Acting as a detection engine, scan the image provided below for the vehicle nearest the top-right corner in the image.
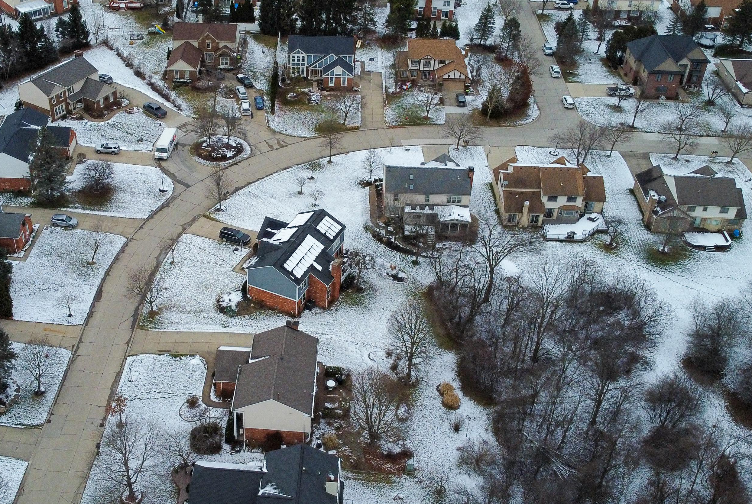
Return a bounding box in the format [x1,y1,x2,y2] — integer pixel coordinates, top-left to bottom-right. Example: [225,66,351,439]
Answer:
[607,84,636,97]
